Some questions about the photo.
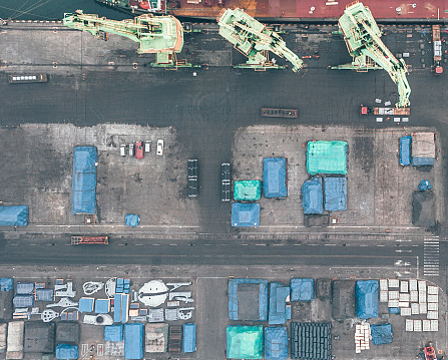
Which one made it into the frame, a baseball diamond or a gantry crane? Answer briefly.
gantry crane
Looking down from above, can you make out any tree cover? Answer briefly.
No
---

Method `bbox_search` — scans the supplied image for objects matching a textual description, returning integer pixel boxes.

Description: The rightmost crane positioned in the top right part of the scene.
[326,3,418,106]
